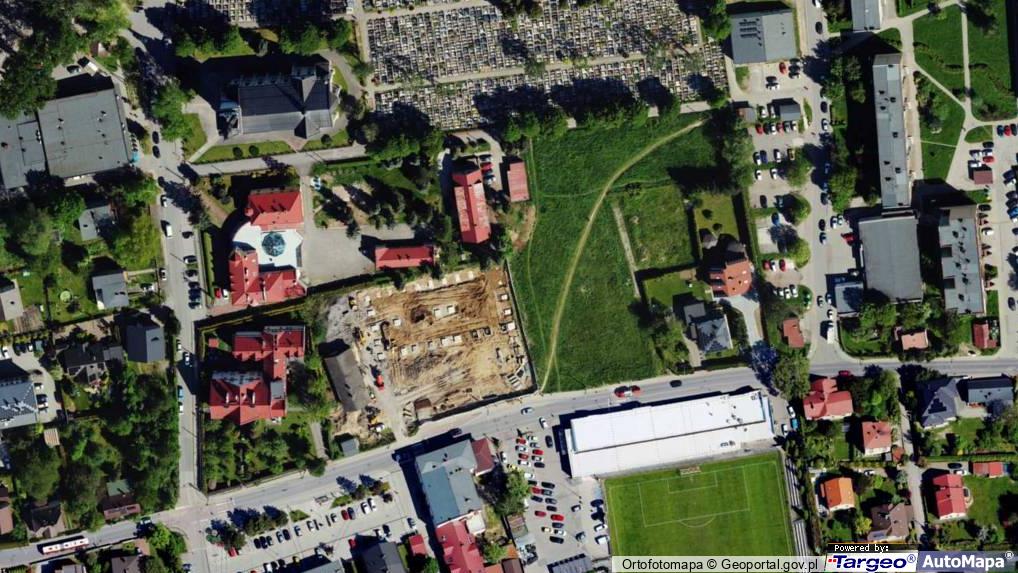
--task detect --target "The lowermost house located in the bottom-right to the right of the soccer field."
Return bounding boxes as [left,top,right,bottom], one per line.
[867,503,914,540]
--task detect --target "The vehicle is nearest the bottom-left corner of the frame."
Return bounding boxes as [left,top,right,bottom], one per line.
[44,536,90,553]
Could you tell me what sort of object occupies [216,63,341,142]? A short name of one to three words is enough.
building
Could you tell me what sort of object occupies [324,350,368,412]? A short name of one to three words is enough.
barn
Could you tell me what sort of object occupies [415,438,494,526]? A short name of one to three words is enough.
building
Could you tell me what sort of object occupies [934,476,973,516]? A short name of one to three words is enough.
house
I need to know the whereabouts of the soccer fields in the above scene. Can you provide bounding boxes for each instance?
[603,452,795,573]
